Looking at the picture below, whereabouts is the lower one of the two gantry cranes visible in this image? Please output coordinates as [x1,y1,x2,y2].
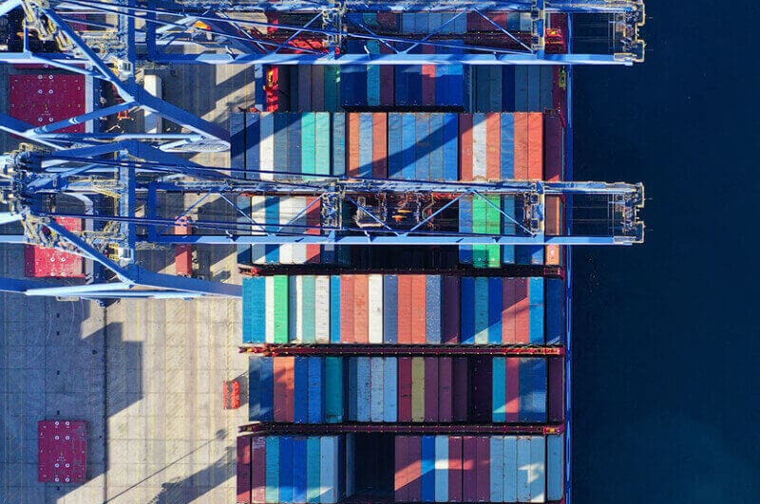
[0,139,652,310]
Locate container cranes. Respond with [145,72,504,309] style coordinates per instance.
[0,139,652,310]
[0,0,649,169]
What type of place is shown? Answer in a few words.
port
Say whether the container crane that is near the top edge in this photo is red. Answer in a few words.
No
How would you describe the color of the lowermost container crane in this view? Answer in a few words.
blue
